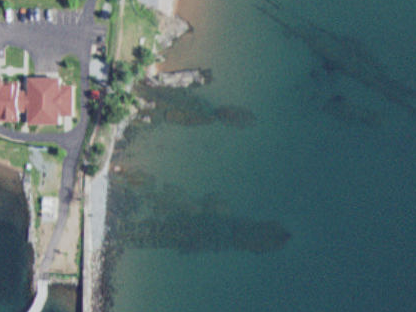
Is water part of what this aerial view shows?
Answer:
Yes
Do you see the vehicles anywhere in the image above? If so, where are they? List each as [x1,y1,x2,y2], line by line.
[5,8,12,23]
[28,8,34,22]
[98,10,112,18]
[46,9,54,23]
[34,8,41,22]
[20,8,26,22]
